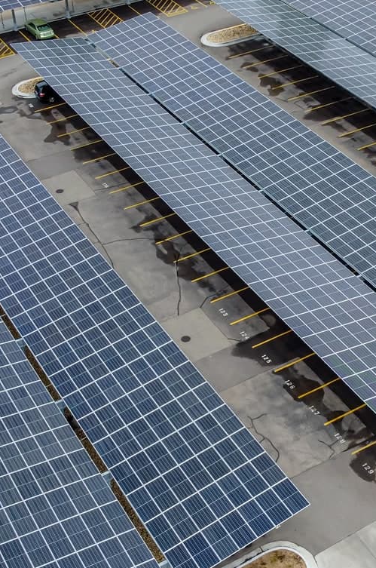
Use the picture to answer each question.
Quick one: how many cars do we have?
two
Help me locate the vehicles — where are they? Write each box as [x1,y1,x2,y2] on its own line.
[35,80,61,104]
[22,18,53,40]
